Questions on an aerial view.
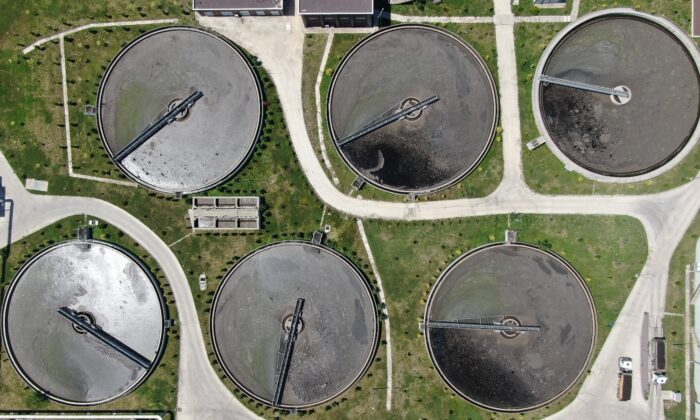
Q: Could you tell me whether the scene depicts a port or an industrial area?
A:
industrial area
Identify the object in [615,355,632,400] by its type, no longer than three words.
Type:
vehicle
